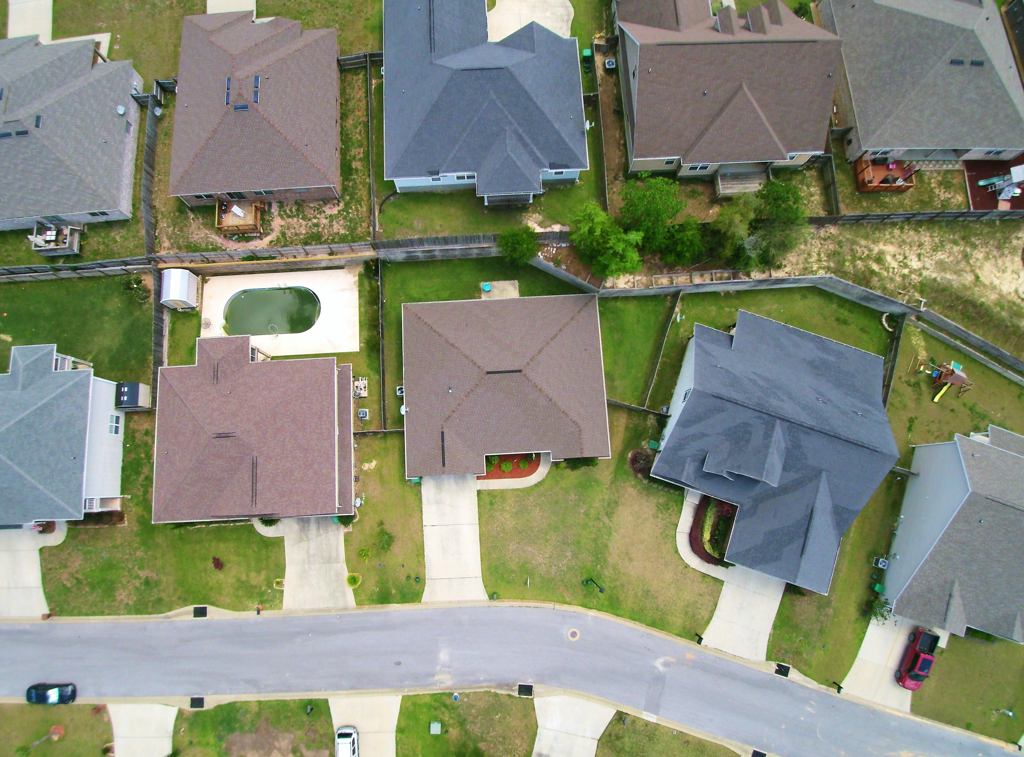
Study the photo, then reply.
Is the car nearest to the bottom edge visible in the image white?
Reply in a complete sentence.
Yes, the car nearest to the bottom edge is indeed white.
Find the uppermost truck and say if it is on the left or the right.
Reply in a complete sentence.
The uppermost truck is on the right side of the image.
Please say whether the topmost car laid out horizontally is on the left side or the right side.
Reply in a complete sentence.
The topmost car laid out horizontally is on the left side of the image.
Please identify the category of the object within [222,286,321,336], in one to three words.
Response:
swimming pool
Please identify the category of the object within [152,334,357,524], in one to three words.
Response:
house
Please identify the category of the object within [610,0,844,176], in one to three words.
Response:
house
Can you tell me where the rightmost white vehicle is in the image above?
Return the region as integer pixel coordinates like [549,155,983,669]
[333,724,357,757]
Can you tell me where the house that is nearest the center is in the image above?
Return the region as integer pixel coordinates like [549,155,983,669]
[401,293,611,480]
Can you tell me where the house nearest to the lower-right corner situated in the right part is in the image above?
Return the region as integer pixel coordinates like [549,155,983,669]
[875,424,1024,645]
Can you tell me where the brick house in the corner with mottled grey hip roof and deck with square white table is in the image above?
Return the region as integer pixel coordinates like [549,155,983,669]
[0,33,145,234]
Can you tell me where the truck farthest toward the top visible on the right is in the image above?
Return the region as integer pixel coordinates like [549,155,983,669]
[896,622,943,694]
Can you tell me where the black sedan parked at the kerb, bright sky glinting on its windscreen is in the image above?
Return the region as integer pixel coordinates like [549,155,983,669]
[21,683,79,709]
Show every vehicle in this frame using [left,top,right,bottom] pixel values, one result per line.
[21,683,79,709]
[333,724,357,757]
[896,622,943,694]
